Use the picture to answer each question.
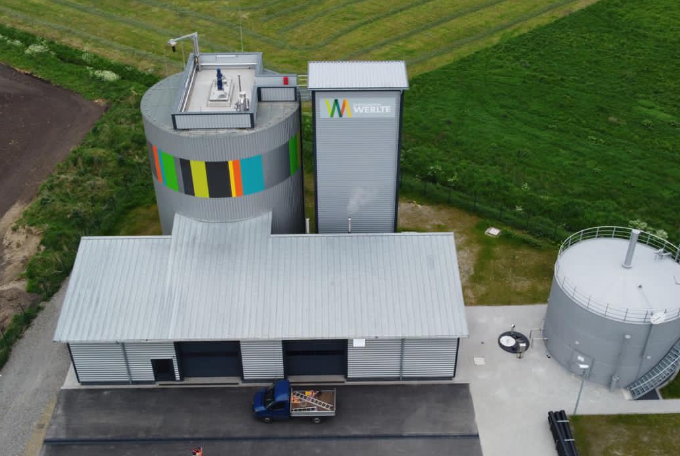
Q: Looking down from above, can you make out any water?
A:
No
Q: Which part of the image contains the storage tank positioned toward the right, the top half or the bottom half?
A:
bottom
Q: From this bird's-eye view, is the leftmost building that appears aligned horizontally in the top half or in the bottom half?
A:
bottom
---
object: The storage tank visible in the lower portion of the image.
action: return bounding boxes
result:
[542,226,680,391]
